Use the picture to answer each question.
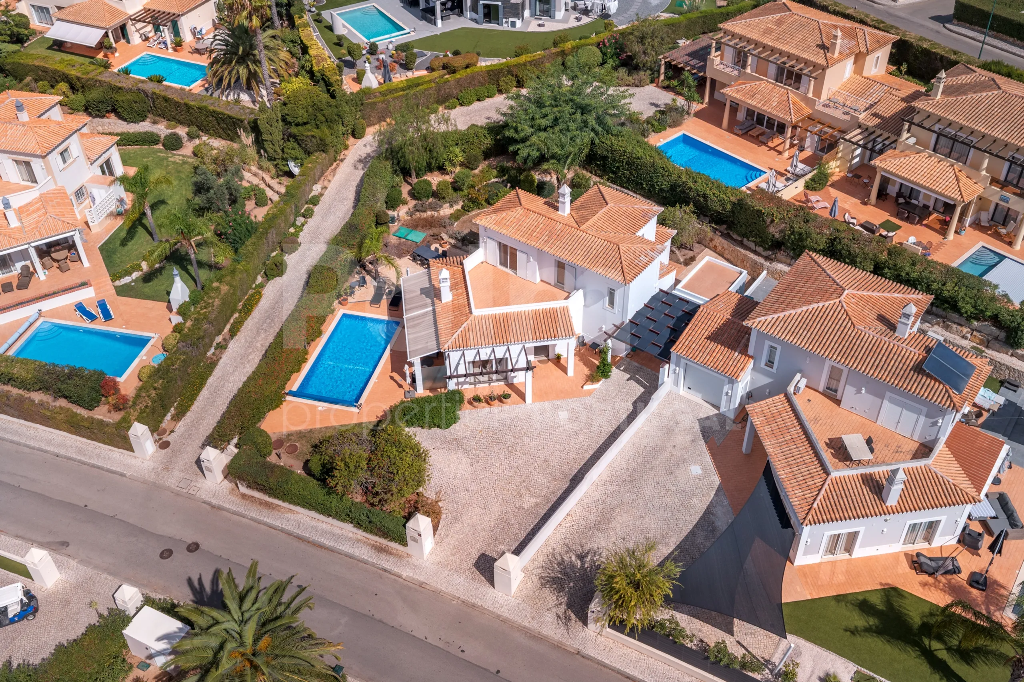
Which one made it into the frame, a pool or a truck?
pool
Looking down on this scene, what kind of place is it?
residential area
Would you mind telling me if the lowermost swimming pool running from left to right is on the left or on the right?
left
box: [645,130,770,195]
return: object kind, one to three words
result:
swimming pool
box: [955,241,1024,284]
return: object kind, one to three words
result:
swimming pool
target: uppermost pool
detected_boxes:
[342,2,415,45]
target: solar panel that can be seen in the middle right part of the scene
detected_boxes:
[922,341,977,400]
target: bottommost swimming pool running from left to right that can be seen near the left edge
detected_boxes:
[3,316,159,381]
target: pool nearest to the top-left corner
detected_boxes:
[113,51,217,88]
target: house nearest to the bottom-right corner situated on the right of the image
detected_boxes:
[669,248,1010,566]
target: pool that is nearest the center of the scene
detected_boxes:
[287,309,404,412]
